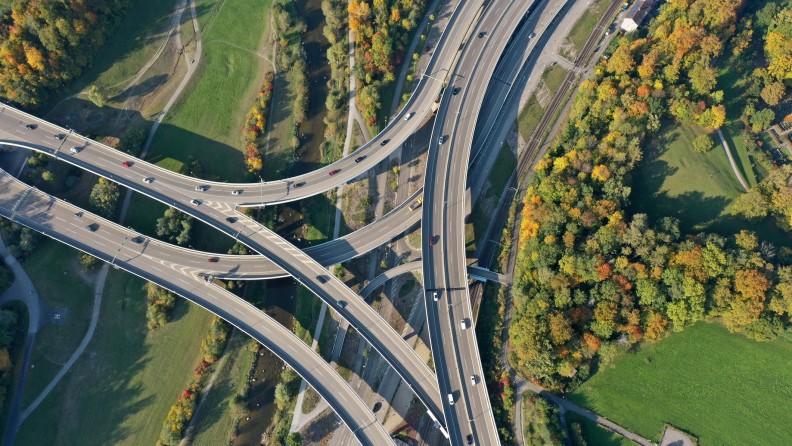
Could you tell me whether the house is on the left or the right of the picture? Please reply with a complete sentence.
The house is on the right side of the image.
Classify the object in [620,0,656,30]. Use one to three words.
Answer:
house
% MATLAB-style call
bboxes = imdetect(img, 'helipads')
[51,307,67,325]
